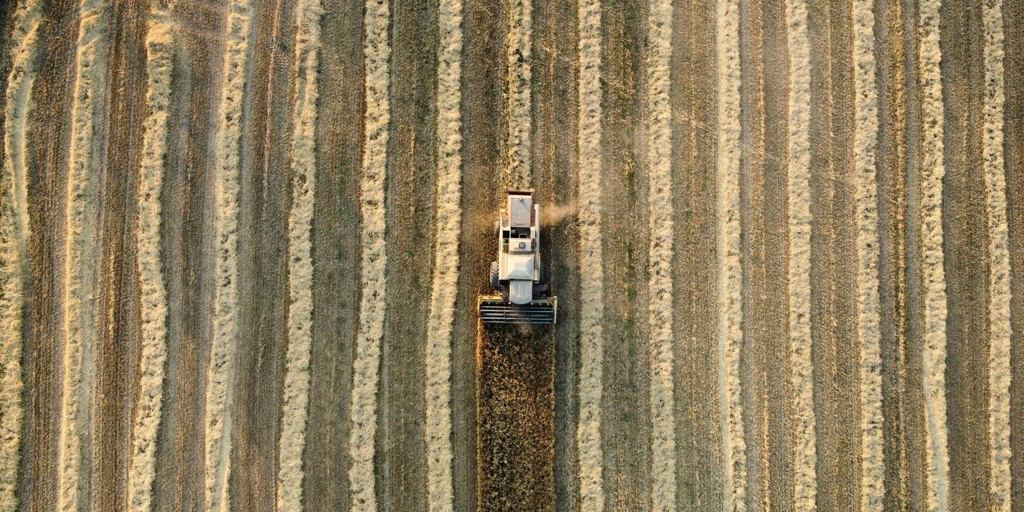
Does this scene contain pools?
No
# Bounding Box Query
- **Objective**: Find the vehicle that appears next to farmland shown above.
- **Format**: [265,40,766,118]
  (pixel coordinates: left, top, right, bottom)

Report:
[478,189,557,328]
